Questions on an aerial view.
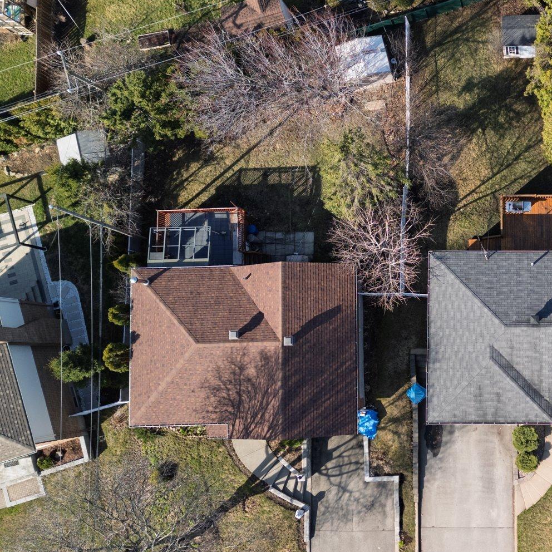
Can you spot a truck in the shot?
No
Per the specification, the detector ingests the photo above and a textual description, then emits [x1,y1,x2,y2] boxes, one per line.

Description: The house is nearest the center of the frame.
[126,262,365,441]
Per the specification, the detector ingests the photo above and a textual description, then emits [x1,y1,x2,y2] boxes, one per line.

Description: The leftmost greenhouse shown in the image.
[0,0,34,35]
